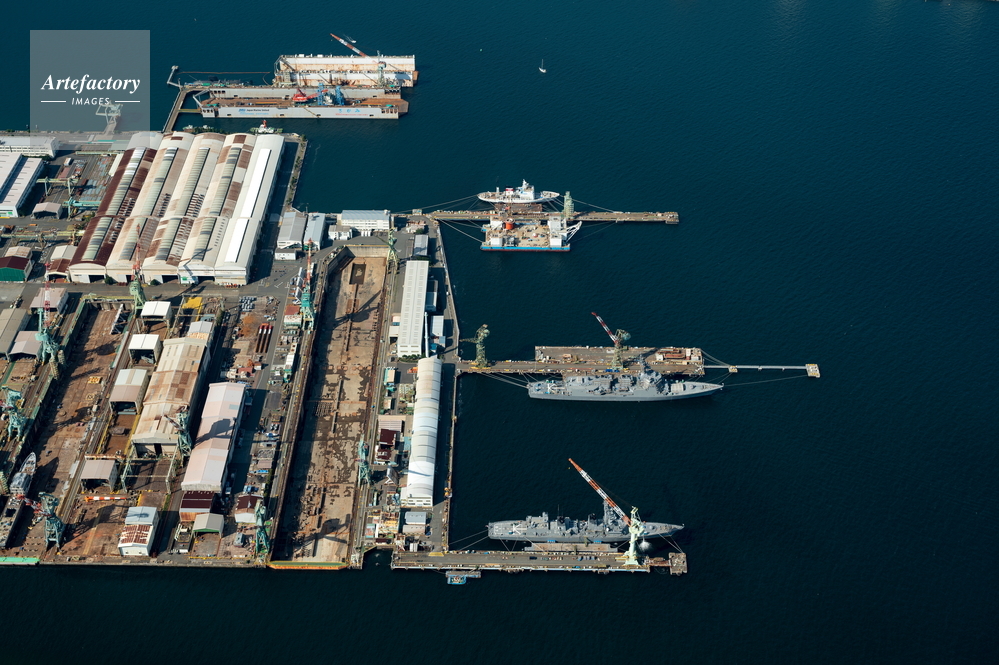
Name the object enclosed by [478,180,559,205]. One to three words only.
ship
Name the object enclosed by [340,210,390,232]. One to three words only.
building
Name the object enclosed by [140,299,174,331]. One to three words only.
shed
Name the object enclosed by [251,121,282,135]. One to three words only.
boat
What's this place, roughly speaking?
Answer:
port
